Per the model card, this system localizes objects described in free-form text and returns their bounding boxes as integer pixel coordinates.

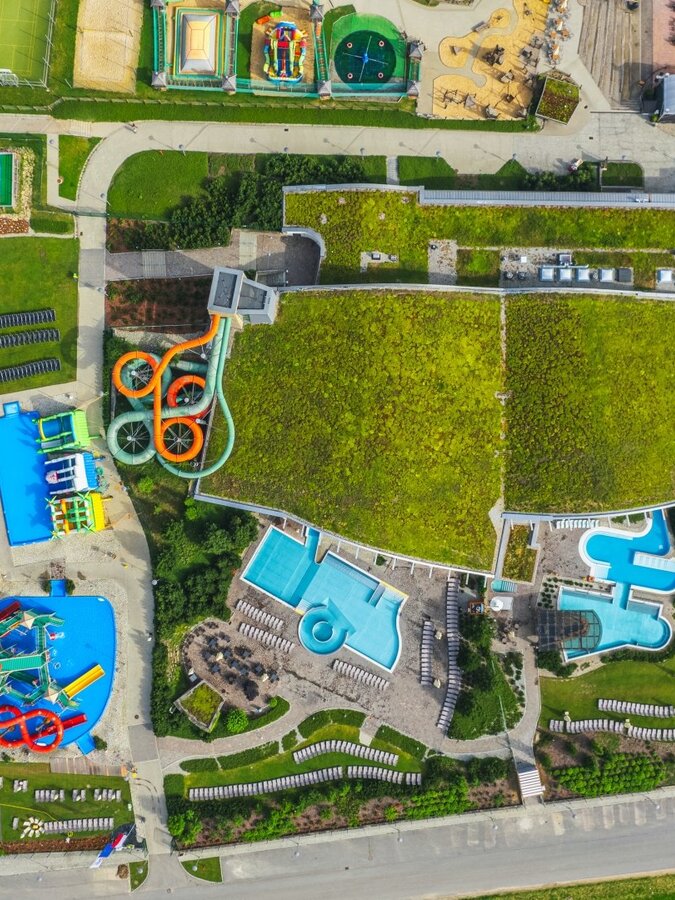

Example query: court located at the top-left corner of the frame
[73,0,142,93]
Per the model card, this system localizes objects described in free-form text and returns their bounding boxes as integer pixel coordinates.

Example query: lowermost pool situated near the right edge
[556,582,673,662]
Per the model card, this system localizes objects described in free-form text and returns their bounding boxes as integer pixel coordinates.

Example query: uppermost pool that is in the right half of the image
[580,509,675,592]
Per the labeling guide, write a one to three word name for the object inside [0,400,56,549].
swimming pool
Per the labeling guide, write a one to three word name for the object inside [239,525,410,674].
swimming pool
